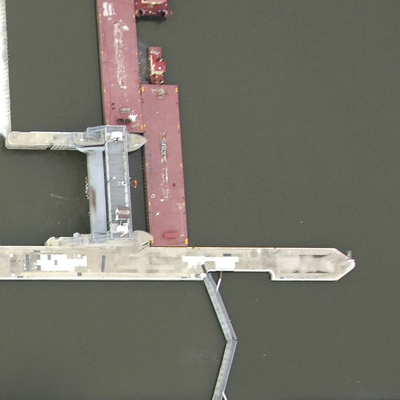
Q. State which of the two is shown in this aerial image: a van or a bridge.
bridge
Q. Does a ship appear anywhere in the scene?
Yes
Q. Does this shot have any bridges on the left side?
Yes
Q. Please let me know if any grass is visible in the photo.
No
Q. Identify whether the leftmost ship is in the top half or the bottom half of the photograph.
top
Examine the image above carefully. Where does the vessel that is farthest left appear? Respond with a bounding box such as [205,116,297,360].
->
[95,0,146,134]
